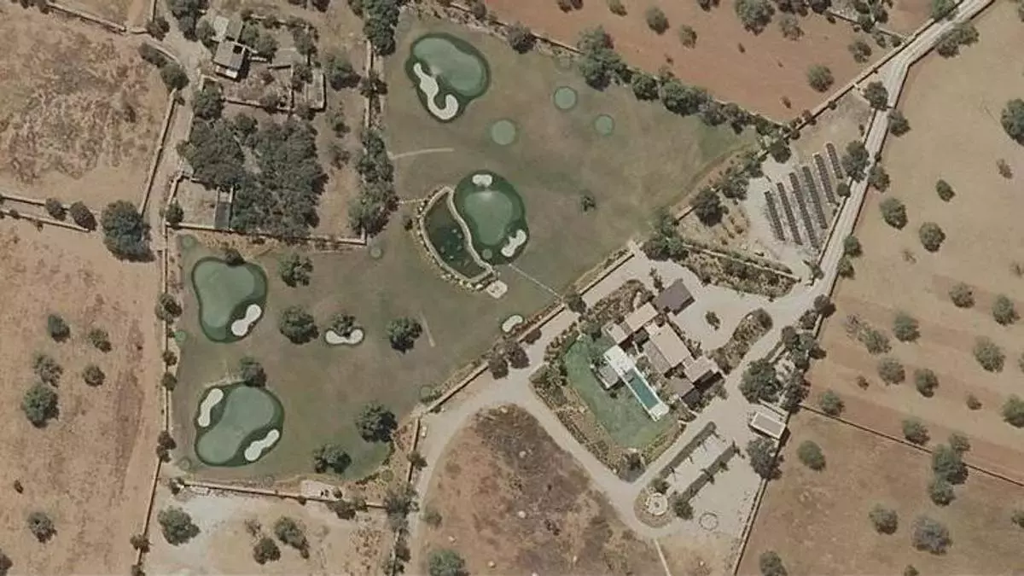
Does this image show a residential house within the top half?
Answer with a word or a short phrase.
Yes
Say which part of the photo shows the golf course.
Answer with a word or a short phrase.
center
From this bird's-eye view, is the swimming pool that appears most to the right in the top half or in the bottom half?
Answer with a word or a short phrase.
bottom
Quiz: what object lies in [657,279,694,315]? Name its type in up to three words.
building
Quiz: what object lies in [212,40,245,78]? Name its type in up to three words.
house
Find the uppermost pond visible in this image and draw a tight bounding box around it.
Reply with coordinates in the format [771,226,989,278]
[420,188,492,282]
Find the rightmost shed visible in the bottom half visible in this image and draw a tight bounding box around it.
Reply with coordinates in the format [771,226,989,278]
[752,413,785,439]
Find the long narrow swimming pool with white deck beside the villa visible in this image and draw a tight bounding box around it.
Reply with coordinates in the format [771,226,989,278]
[607,345,670,421]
